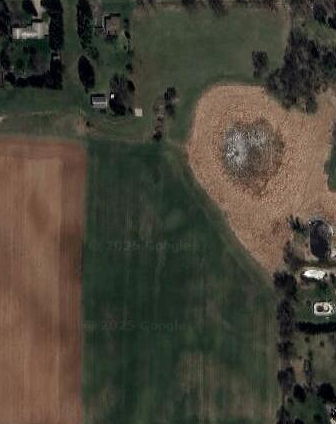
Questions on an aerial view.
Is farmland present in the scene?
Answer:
Yes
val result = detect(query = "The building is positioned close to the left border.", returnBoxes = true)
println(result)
[12,19,46,37]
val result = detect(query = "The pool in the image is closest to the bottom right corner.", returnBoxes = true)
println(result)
[313,302,331,316]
